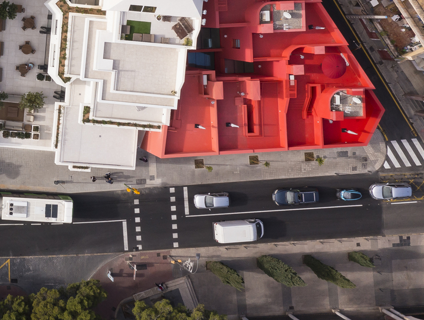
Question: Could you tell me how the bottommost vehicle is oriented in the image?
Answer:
from left to right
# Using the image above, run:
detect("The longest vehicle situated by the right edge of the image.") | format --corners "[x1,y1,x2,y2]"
[371,183,417,204]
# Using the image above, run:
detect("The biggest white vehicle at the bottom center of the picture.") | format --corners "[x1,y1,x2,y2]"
[212,221,263,246]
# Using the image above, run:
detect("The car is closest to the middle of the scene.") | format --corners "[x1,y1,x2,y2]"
[193,192,232,213]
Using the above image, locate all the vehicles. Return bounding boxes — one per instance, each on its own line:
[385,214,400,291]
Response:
[272,189,322,210]
[193,192,232,213]
[0,197,76,227]
[338,188,365,205]
[212,221,263,246]
[371,183,417,204]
